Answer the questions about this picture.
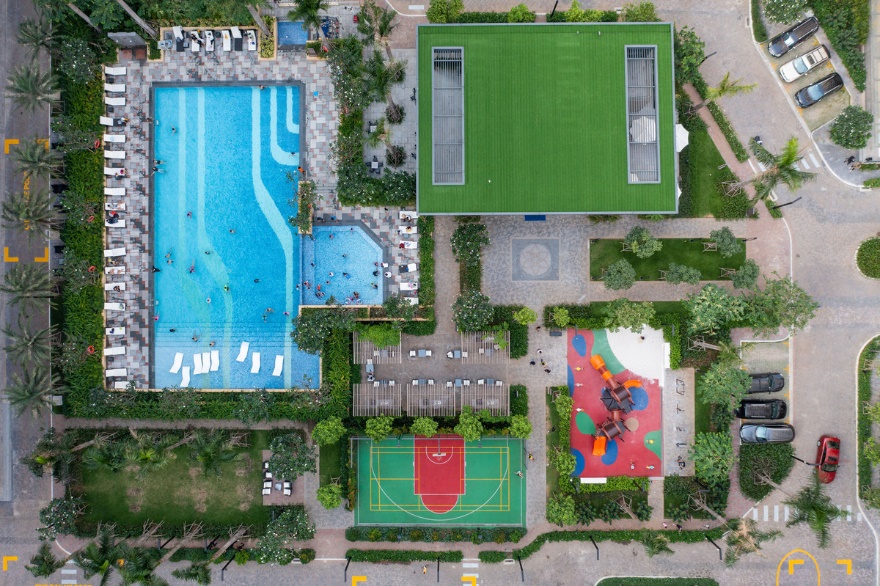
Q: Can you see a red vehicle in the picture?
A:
Yes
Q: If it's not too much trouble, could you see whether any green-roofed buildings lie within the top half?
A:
Yes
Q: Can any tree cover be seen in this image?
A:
Yes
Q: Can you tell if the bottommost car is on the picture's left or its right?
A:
right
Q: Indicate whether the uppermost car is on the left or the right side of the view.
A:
right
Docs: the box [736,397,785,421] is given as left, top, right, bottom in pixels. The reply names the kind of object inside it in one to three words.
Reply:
car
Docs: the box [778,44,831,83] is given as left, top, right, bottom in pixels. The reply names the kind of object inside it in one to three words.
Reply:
car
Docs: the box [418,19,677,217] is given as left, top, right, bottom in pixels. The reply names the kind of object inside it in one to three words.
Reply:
building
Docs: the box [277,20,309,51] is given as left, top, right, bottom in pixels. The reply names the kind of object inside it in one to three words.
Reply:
swimming pool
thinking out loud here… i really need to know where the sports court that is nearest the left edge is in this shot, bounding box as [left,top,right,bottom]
[357,439,527,528]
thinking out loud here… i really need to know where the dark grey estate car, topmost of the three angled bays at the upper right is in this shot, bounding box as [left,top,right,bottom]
[767,16,820,57]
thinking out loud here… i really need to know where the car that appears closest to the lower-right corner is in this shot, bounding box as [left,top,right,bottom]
[811,433,840,482]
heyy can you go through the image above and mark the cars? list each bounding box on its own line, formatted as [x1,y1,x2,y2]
[736,397,785,421]
[740,370,785,394]
[792,70,845,110]
[811,433,840,482]
[738,421,794,445]
[767,16,820,57]
[778,44,831,83]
